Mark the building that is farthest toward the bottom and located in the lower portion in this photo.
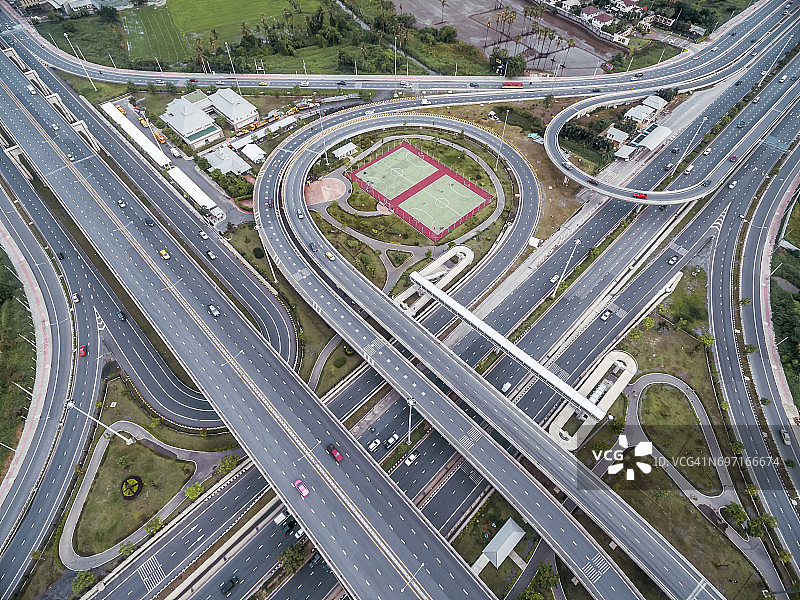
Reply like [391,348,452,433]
[482,516,525,568]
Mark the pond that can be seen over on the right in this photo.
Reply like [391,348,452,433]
[488,34,618,73]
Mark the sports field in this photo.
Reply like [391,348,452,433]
[123,9,192,61]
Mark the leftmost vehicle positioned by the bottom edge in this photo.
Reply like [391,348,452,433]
[219,574,240,597]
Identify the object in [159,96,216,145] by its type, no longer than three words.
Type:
building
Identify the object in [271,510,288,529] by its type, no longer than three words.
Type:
vehicle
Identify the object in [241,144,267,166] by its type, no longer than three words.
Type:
house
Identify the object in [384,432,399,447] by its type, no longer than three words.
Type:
vehicle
